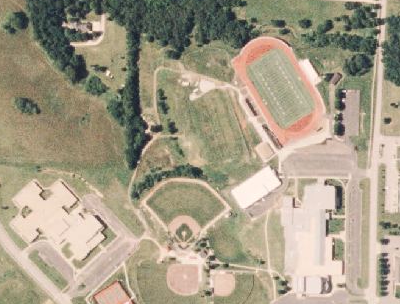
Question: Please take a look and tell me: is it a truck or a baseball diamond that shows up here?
baseball diamond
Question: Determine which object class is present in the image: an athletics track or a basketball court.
athletics track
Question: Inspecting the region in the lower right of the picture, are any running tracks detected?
No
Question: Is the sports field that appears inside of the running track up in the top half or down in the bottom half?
top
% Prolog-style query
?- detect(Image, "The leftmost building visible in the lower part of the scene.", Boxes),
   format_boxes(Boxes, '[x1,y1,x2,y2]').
[9,180,106,260]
